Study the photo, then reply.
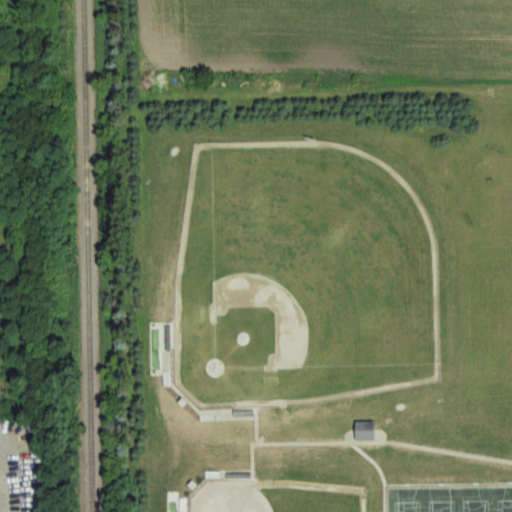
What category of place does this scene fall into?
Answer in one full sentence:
What you see here is a sports ground.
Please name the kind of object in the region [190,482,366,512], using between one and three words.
baseball field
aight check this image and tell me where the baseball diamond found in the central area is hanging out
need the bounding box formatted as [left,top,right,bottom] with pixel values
[175,141,440,407]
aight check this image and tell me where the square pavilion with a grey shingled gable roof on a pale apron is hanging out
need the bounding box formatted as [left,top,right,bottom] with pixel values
[356,421,374,441]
